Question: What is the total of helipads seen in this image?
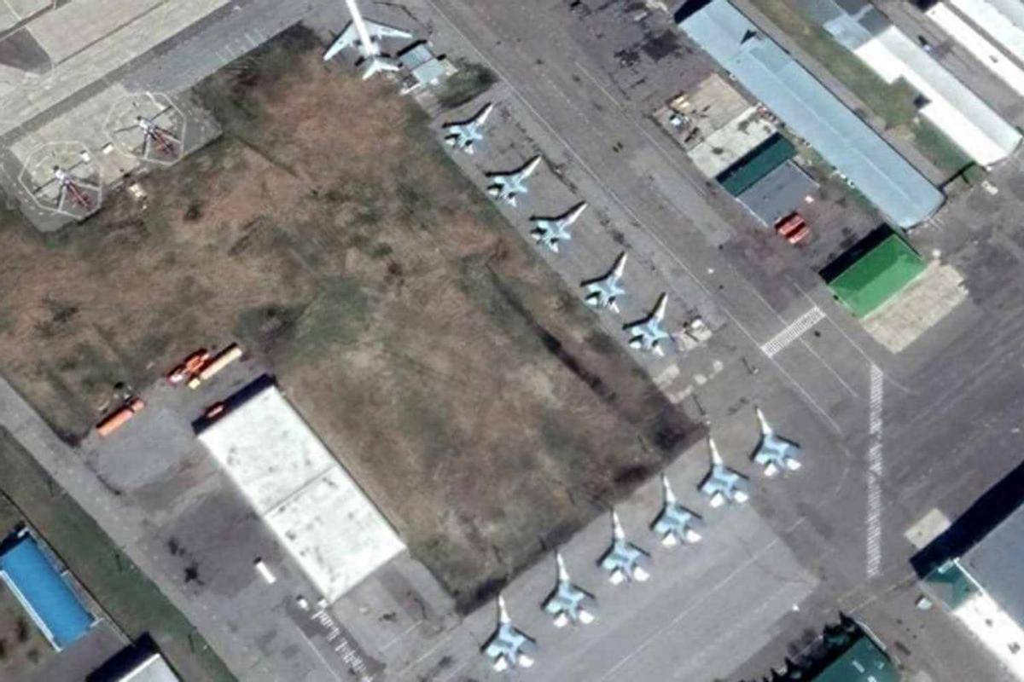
two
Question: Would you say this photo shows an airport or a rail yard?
airport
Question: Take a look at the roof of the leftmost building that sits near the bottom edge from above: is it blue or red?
blue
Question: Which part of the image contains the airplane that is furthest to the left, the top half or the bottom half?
top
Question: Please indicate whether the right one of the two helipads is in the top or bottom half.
top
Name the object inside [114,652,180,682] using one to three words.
building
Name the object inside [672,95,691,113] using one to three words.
vehicle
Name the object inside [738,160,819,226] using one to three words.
shed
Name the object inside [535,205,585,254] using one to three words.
airplane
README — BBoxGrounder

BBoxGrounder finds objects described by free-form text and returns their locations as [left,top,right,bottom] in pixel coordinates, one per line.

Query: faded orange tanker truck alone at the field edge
[97,400,146,435]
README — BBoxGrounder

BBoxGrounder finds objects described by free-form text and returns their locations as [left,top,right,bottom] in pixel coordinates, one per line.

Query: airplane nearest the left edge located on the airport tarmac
[325,0,414,79]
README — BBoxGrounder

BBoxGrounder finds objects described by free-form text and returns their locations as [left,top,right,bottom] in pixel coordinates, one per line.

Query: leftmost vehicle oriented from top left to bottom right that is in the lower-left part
[255,560,276,584]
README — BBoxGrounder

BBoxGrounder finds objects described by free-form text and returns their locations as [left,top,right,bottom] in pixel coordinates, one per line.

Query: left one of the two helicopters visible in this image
[37,153,94,211]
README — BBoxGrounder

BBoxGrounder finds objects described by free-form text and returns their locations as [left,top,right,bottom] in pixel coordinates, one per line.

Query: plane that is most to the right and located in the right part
[755,405,800,476]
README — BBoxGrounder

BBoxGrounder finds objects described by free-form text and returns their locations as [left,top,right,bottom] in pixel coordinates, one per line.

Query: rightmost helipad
[104,93,187,164]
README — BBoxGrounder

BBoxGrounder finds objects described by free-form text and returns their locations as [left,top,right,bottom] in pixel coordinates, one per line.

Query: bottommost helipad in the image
[19,140,102,218]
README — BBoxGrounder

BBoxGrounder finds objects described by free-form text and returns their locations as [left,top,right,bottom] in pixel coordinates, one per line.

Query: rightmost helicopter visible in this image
[122,102,179,159]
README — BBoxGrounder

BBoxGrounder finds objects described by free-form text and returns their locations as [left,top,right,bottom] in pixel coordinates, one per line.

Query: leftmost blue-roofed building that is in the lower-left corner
[0,528,104,654]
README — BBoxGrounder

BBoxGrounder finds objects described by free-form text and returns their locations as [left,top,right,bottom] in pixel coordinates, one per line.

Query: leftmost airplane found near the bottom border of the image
[484,592,536,671]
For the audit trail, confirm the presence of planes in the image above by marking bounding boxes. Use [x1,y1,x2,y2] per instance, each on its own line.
[447,105,491,156]
[602,509,649,584]
[325,0,414,79]
[492,158,538,208]
[484,592,536,671]
[545,554,595,628]
[701,434,748,507]
[630,294,669,356]
[587,252,625,313]
[653,472,701,546]
[535,205,585,254]
[755,405,800,476]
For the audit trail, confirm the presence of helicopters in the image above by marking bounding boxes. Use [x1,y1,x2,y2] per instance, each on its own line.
[37,153,94,211]
[122,102,179,159]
